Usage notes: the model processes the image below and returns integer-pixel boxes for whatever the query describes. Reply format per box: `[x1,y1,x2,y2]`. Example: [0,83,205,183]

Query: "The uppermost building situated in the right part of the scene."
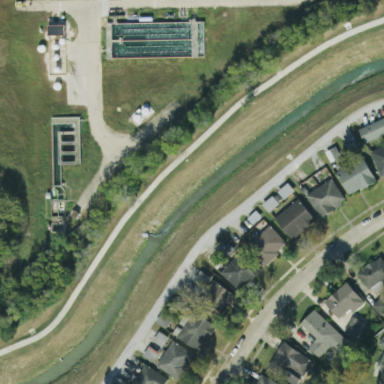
[359,118,384,142]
